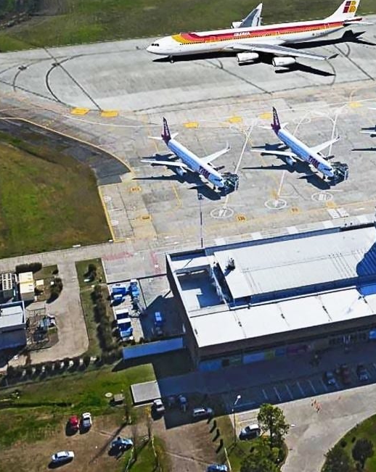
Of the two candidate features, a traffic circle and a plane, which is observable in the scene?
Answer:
plane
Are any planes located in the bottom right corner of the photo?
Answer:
No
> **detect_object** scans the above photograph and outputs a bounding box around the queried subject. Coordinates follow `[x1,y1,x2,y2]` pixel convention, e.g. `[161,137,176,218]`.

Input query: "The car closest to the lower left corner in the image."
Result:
[52,452,74,464]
